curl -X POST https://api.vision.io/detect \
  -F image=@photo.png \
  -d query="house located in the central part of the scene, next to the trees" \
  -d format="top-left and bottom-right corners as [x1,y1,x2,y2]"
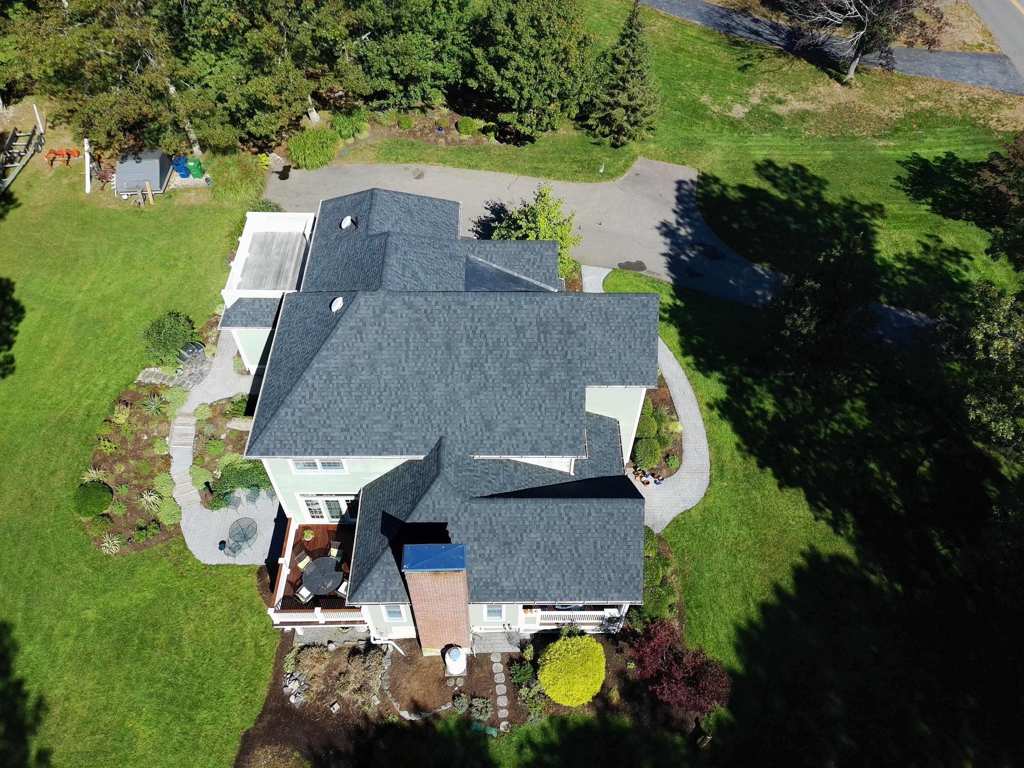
[215,187,659,660]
